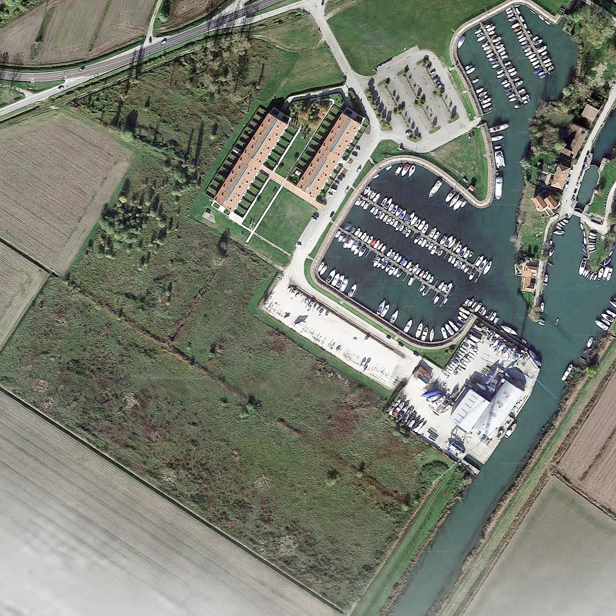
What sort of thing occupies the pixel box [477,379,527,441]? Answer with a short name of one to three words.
hangar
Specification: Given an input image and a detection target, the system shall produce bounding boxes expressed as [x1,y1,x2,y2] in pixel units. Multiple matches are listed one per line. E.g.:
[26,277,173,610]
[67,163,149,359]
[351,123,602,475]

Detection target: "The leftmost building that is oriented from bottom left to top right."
[214,104,293,212]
